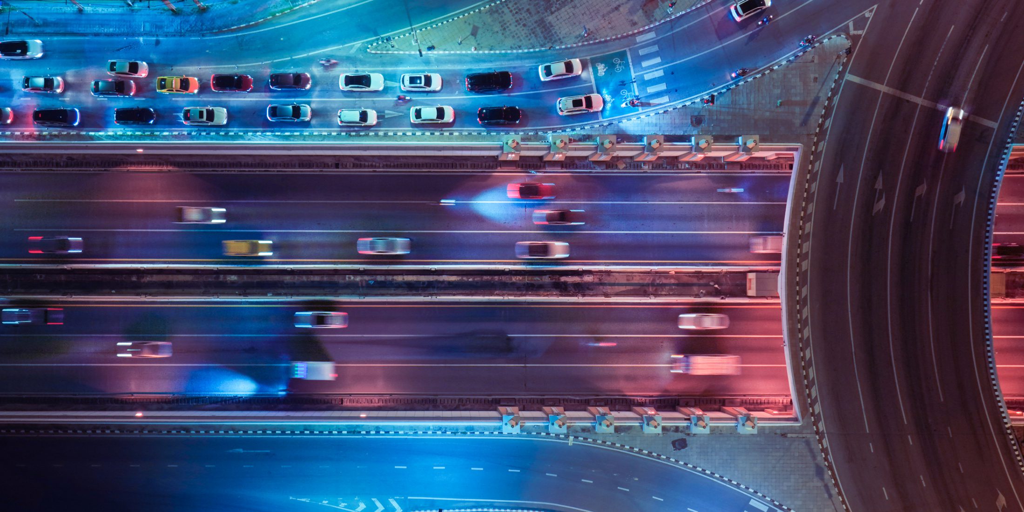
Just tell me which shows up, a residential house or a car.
car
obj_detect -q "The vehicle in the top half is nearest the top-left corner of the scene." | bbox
[0,38,44,59]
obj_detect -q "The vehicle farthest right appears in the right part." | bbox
[995,241,1024,261]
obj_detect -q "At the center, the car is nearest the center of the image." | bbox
[520,240,564,260]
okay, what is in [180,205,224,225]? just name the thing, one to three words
vehicle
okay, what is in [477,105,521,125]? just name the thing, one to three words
car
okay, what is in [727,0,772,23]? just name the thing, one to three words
car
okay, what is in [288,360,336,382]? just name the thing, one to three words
truck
